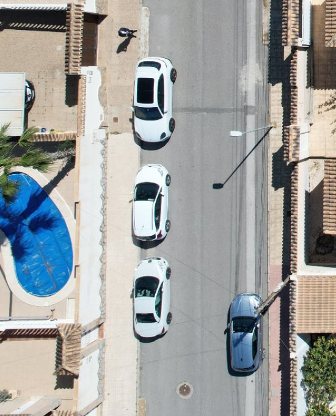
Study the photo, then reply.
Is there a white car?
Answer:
Yes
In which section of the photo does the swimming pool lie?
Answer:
left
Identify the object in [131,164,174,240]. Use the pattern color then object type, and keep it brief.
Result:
white car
